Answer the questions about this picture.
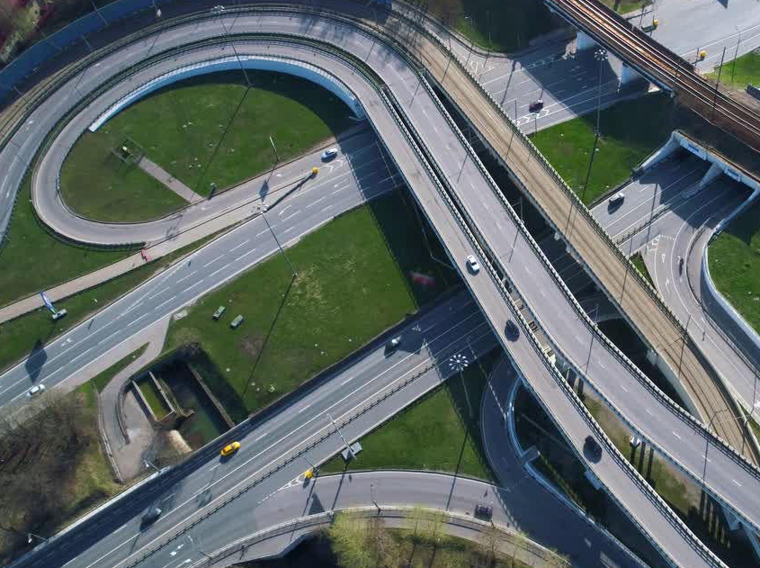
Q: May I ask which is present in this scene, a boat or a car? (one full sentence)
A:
The one in the frame is a car.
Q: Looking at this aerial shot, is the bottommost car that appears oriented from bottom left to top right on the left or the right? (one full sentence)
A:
You can find the bottommost car that appears oriented from bottom left to top right on the left side of the picture.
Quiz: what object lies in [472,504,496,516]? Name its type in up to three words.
vehicle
